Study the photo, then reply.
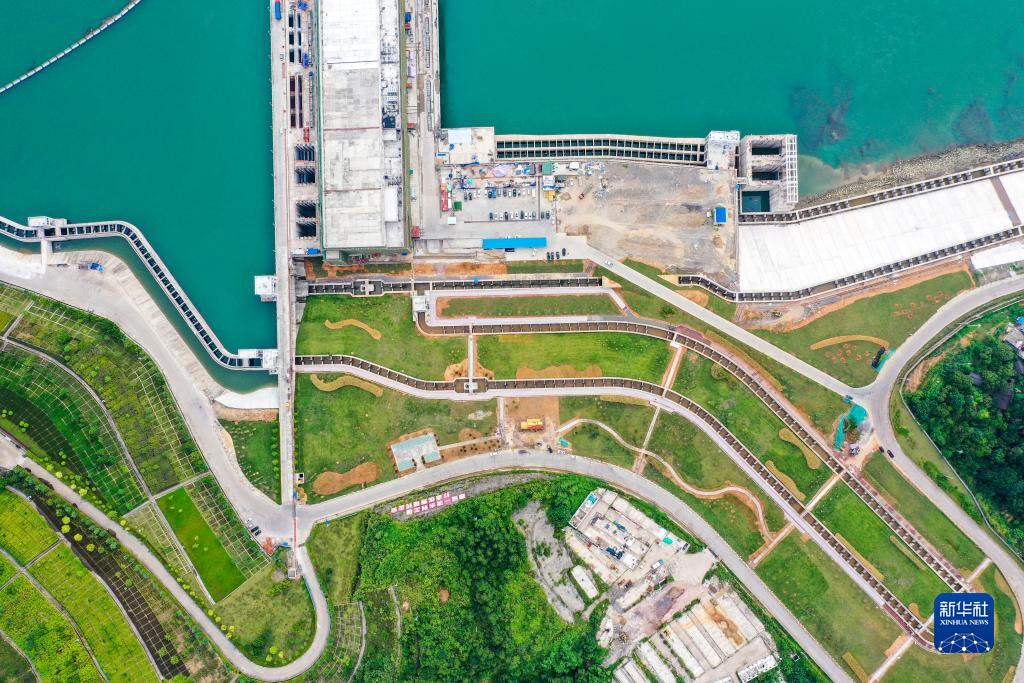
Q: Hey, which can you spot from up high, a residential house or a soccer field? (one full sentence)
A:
Visible in the photo is a residential house.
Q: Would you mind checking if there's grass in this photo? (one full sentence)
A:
Yes, grass can be seen from above here.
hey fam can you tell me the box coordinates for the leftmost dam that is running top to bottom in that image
[270,0,324,505]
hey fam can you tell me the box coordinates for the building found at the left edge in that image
[27,216,76,243]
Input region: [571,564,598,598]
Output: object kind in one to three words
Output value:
house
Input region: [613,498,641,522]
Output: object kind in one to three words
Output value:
shed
